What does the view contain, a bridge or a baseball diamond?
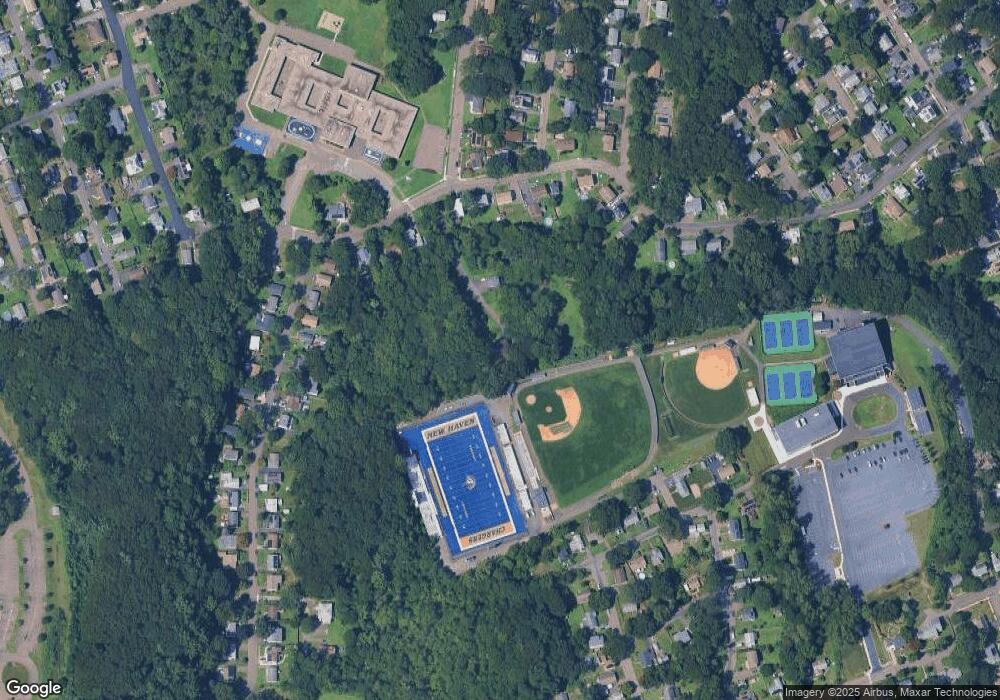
baseball diamond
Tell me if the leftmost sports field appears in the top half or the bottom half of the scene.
bottom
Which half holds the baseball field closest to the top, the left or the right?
right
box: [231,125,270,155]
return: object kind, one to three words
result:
basketball court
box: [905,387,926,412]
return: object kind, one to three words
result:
building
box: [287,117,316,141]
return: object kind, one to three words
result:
sports court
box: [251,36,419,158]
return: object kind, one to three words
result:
building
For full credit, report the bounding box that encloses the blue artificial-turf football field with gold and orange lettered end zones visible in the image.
[402,403,529,558]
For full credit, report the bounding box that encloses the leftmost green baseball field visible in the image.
[521,361,650,508]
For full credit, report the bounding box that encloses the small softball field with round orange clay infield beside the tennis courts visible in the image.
[662,347,751,427]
